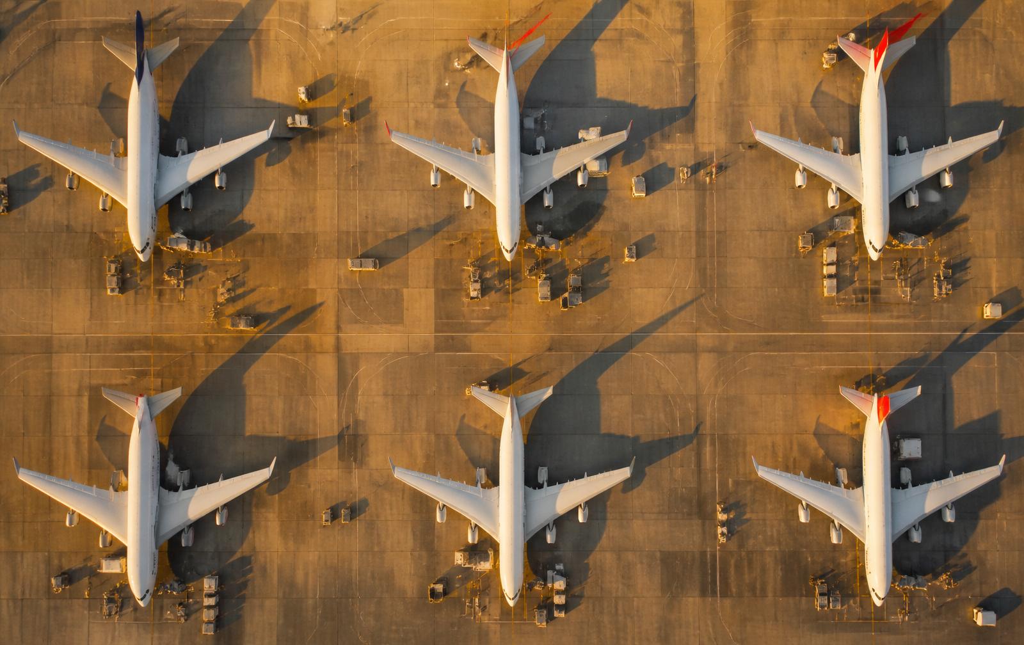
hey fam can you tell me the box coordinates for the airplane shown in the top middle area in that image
[383,24,631,261]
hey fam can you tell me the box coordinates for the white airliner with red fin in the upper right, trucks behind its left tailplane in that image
[749,25,1004,260]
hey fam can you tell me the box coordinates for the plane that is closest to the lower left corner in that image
[9,387,273,606]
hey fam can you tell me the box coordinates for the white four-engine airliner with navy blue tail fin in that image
[12,11,275,261]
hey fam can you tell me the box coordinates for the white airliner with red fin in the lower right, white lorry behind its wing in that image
[751,387,1006,606]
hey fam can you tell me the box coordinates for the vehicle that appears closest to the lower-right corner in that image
[970,607,997,626]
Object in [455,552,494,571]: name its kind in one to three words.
work vehicle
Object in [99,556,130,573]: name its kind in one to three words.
vehicle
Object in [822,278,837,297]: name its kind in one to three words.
vehicle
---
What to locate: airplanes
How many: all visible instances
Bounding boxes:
[749,25,1004,260]
[9,387,273,606]
[751,387,1006,606]
[383,24,631,261]
[388,388,635,606]
[12,11,275,261]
